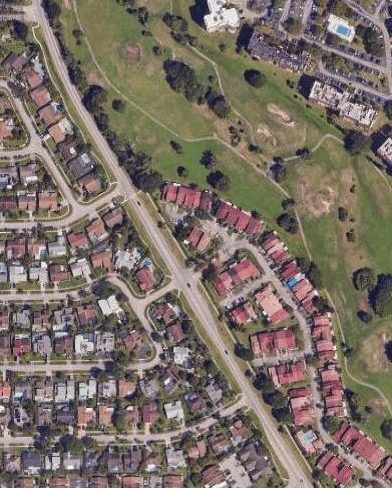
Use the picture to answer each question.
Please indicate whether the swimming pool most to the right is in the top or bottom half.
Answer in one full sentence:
The top half of the photo is where the swimming pool most to the right is.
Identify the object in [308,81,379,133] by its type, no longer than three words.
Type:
building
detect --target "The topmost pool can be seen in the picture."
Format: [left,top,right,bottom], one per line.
[328,15,355,43]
